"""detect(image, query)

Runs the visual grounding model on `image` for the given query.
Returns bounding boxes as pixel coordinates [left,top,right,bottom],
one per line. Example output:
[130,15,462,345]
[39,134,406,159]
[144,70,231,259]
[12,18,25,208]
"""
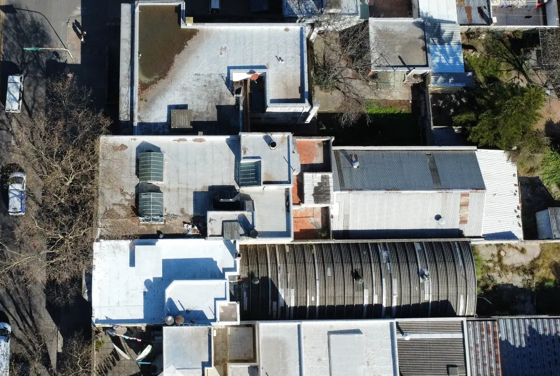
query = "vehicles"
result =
[209,0,224,24]
[0,323,11,376]
[7,173,25,214]
[5,75,24,115]
[251,0,272,24]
